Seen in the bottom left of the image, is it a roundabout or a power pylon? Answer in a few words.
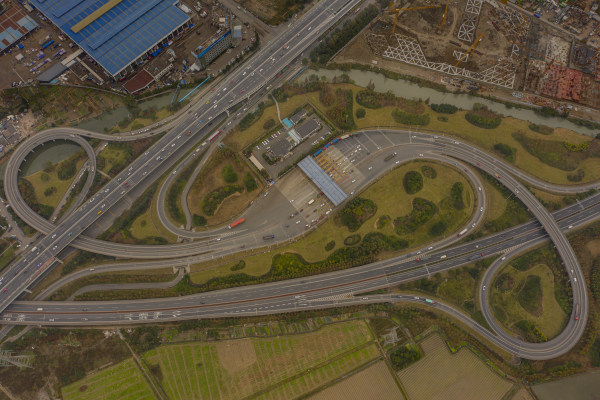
power pylon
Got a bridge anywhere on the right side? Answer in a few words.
Yes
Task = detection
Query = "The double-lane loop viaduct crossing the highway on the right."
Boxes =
[434,141,588,359]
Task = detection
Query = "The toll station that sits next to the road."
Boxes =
[209,128,449,257]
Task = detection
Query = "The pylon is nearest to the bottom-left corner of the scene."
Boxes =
[1,344,37,372]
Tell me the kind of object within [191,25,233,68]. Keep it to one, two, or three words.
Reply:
building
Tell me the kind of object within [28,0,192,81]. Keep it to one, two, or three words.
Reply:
building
